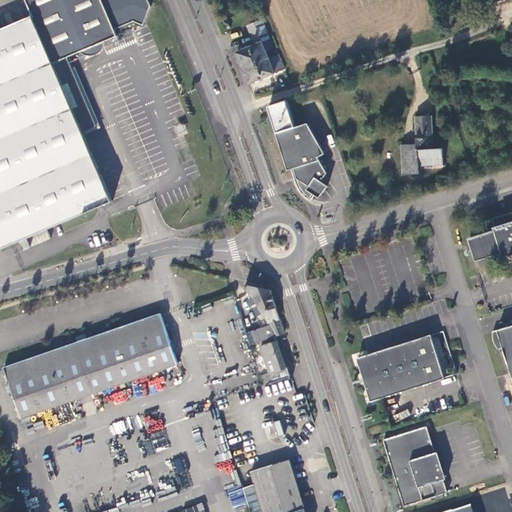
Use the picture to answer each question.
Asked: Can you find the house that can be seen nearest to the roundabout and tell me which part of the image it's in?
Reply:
center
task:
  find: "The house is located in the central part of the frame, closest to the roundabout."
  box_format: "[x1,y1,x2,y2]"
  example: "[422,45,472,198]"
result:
[246,268,273,291]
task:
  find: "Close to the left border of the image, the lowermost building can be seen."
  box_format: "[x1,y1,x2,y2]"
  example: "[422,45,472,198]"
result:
[5,313,178,418]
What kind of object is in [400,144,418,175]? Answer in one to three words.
barn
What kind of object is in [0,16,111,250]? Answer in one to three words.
warehouse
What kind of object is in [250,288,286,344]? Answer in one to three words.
building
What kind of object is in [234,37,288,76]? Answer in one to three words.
house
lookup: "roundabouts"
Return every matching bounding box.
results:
[245,206,313,274]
